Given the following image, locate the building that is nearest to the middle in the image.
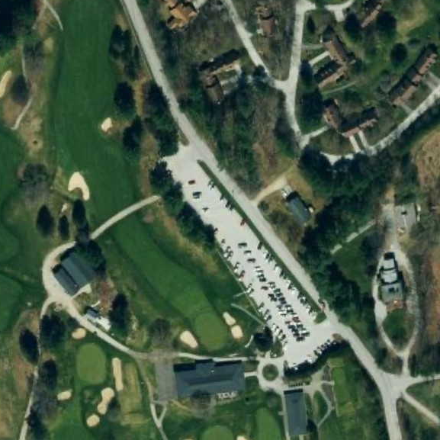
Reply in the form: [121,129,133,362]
[286,196,311,223]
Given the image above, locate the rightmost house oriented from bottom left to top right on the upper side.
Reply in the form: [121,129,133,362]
[386,45,440,105]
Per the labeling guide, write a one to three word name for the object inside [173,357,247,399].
building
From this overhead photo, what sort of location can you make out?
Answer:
golf course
